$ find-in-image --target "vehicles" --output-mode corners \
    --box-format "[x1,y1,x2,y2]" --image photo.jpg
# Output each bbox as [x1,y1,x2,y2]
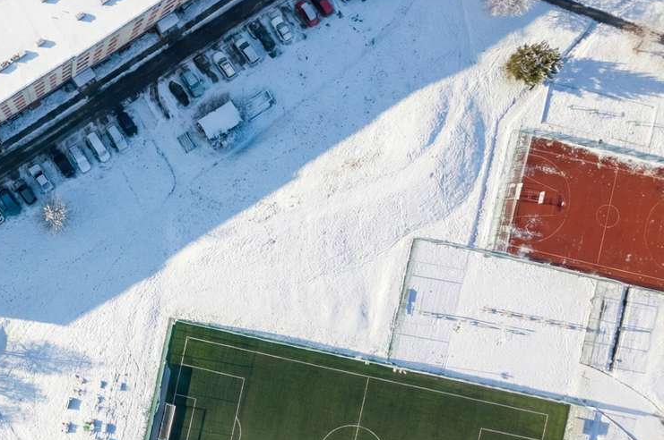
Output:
[250,19,273,49]
[104,121,129,151]
[270,12,293,41]
[181,71,204,97]
[294,0,319,28]
[17,178,38,206]
[116,109,140,138]
[31,165,55,194]
[214,53,235,79]
[312,0,333,16]
[236,37,261,67]
[54,150,76,177]
[69,143,92,174]
[0,185,21,215]
[86,130,111,162]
